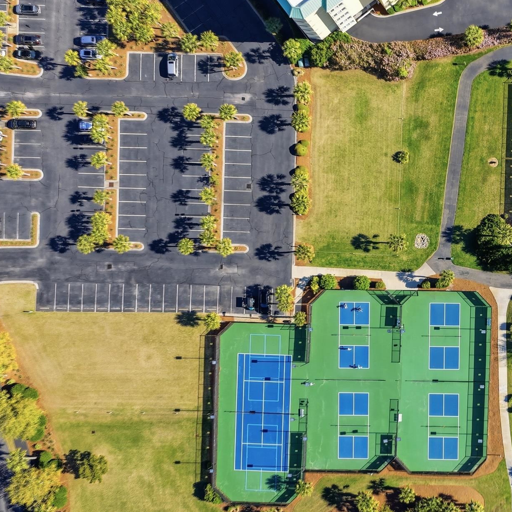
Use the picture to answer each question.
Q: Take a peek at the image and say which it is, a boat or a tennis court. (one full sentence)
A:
I can see a tennis court in this picture.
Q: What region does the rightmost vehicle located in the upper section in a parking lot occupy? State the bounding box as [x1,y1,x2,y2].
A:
[166,53,179,78]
